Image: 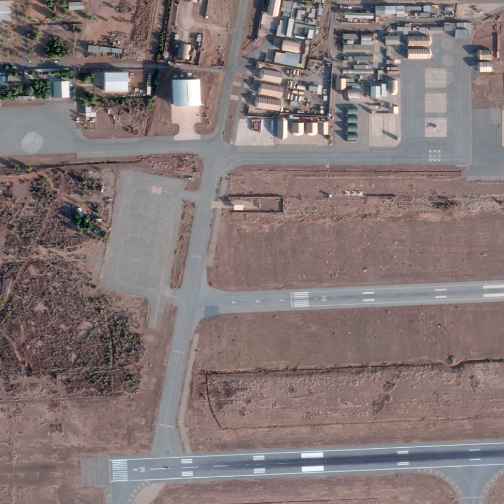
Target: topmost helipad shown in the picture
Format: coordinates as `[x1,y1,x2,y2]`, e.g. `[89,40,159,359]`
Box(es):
[425,67,446,87]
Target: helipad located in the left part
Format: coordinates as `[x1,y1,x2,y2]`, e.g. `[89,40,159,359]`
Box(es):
[22,131,43,153]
